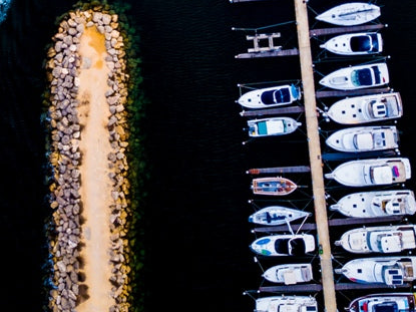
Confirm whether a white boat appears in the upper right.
Yes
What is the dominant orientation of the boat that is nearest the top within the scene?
horizontally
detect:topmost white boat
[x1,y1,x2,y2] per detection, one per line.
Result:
[316,4,381,26]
